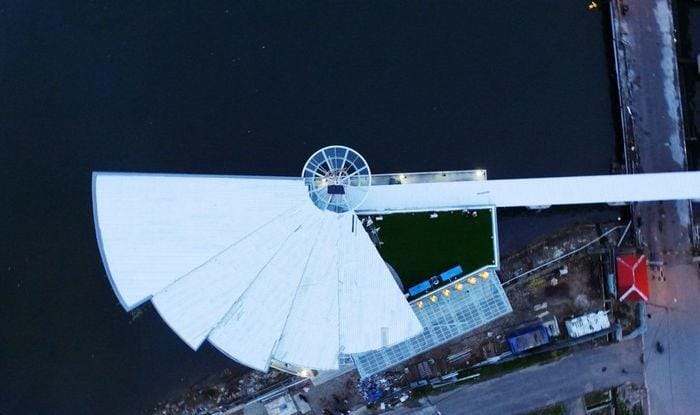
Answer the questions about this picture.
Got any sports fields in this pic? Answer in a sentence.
No, there's no sports field here.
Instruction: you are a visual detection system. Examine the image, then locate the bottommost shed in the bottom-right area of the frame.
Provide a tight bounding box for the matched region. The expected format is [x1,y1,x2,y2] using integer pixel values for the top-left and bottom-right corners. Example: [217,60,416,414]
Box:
[559,308,612,336]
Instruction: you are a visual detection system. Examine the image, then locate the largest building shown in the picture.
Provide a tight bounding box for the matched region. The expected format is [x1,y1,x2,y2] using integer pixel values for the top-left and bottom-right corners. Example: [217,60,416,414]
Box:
[92,144,498,381]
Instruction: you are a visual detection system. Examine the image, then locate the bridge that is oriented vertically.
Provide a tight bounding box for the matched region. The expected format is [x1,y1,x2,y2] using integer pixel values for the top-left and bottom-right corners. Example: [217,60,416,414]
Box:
[608,0,700,246]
